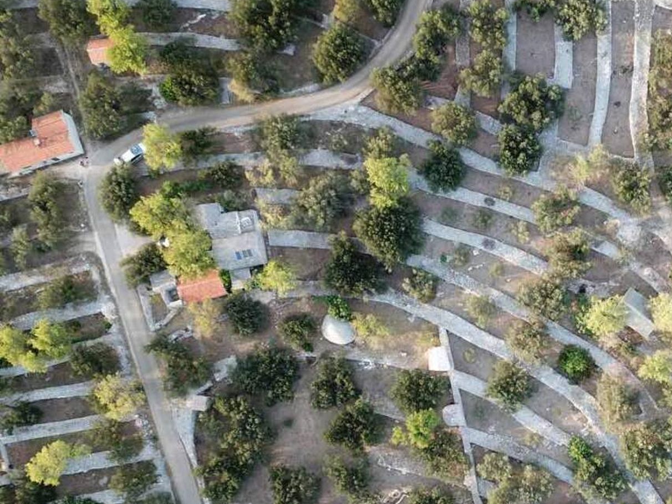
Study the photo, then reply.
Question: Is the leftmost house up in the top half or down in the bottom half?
top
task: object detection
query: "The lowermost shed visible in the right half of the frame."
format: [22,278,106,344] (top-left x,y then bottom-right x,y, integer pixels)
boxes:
[428,348,451,370]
